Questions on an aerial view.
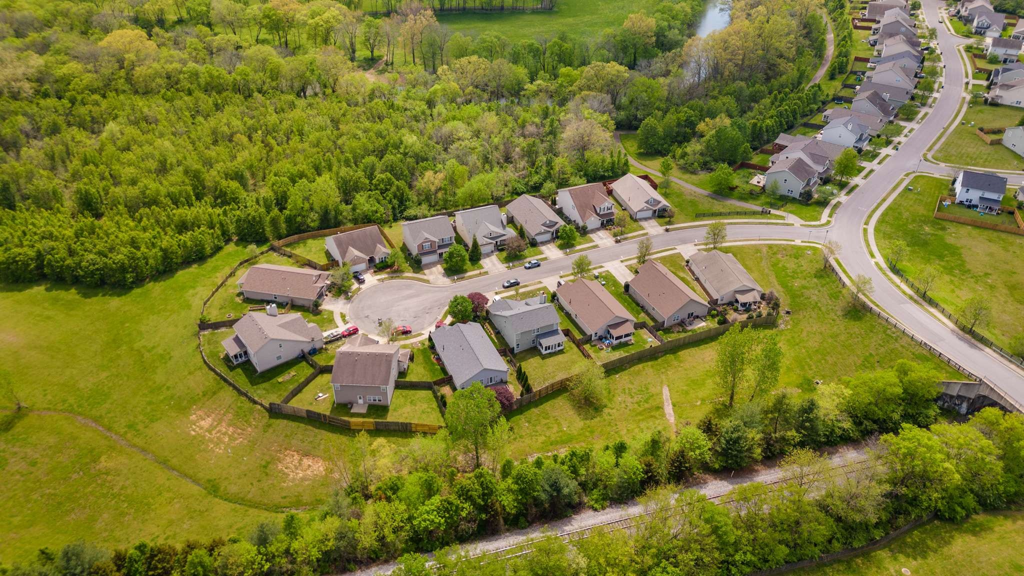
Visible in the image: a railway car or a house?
house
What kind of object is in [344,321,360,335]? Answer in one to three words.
car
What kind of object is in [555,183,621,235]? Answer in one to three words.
house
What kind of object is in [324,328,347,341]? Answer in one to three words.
vehicle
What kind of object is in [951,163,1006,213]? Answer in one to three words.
house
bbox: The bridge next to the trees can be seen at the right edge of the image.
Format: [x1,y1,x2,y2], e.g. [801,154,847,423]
[935,362,1024,416]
